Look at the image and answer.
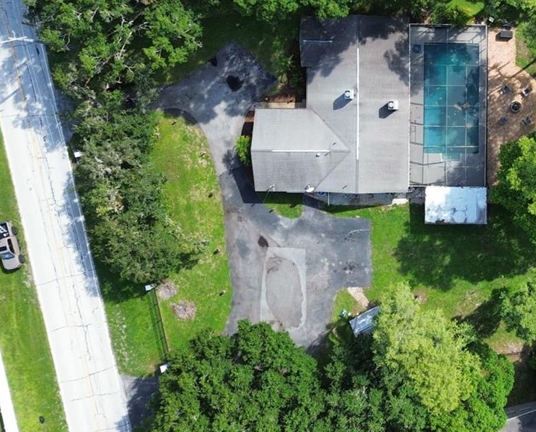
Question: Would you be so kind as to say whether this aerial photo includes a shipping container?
No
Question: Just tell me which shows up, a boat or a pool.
pool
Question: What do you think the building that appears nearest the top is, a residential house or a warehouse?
residential house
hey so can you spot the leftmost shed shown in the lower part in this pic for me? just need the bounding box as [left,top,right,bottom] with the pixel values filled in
[349,308,376,338]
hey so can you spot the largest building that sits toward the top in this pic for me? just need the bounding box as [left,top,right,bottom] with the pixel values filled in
[250,13,411,198]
